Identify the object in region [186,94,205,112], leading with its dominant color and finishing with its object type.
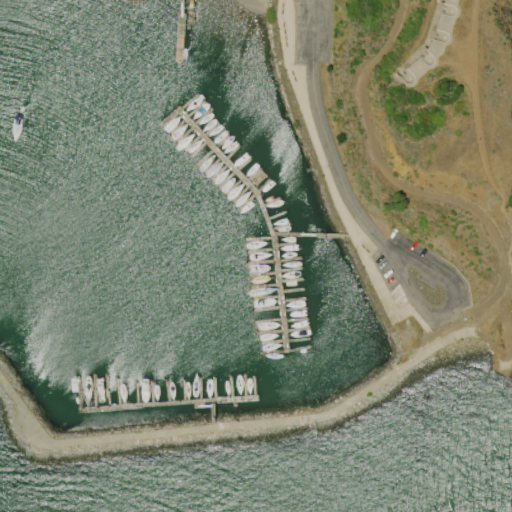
white boat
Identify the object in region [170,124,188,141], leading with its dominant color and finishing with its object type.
white boat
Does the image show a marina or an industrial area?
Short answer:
marina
